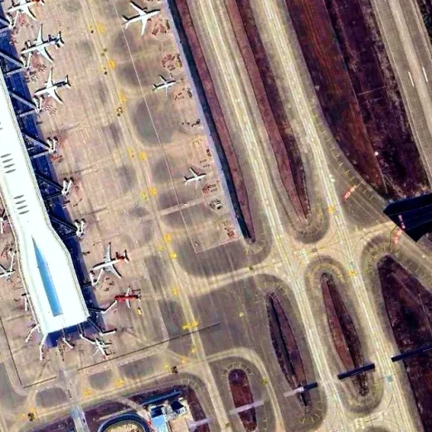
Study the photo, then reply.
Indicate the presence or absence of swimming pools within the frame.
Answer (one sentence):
No, there isn't any swimming pool down there.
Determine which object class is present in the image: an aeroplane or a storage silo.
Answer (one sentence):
Of the two, only an aeroplane appears.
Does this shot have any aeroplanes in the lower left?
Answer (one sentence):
Yes, there is an aeroplane in the lower left.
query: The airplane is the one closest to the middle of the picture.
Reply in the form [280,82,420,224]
[182,169,205,189]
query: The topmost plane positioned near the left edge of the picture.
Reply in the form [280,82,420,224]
[7,0,43,20]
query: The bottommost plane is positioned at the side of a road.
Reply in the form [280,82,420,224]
[92,339,111,360]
